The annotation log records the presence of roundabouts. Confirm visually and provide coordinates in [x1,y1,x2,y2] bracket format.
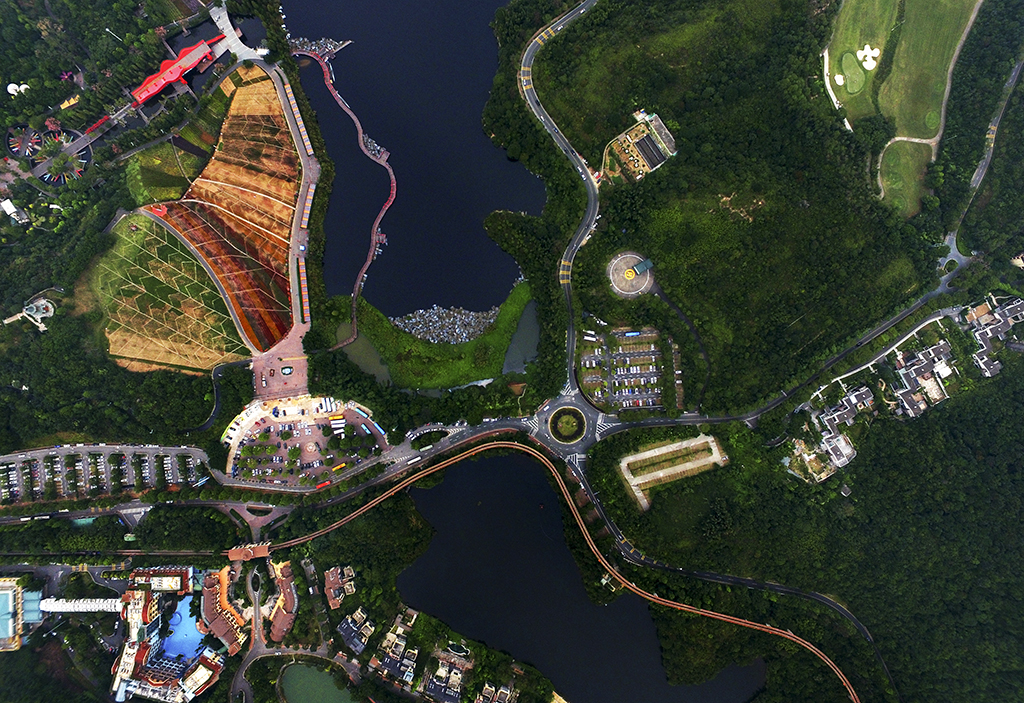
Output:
[505,374,635,470]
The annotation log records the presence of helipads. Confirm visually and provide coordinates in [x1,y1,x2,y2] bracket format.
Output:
[606,251,653,298]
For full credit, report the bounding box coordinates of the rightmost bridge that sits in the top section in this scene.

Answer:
[132,34,227,110]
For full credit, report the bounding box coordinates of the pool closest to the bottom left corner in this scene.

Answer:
[161,594,208,661]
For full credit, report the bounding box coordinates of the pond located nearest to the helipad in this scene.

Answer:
[504,300,539,375]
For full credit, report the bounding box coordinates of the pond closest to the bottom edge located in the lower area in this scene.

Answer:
[279,663,350,703]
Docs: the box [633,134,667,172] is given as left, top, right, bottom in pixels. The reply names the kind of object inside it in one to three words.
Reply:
house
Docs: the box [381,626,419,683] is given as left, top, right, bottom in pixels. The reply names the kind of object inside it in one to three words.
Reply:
house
